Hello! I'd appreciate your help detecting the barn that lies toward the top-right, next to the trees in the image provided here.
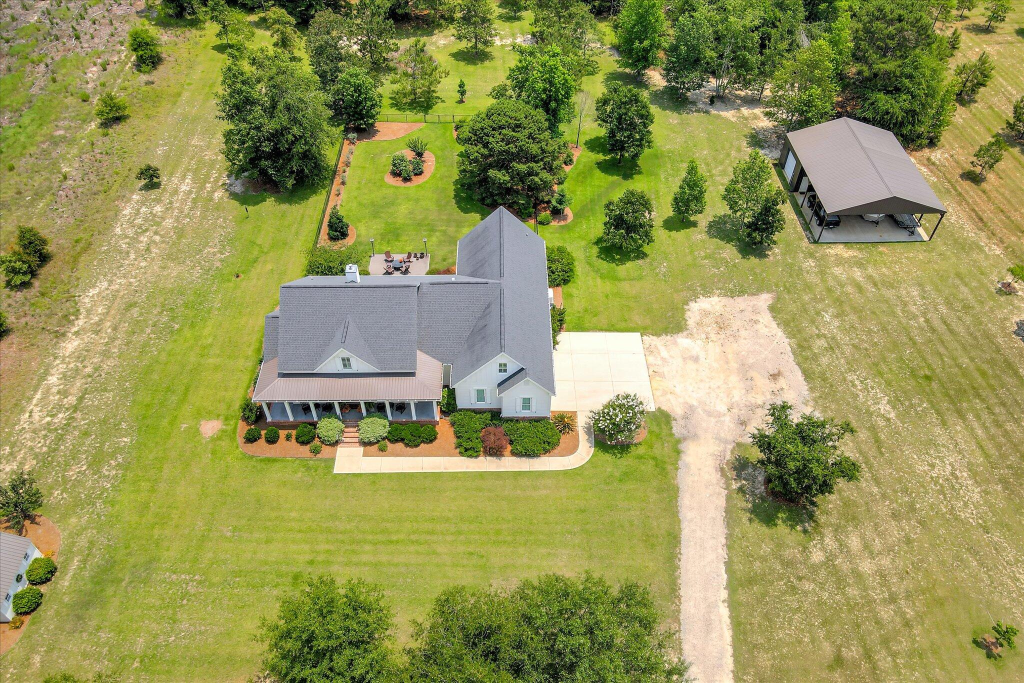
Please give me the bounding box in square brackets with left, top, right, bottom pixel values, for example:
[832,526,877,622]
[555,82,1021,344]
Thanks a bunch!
[779,116,947,242]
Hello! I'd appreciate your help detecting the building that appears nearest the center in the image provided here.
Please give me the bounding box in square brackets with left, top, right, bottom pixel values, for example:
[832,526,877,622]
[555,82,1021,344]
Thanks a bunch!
[250,206,558,447]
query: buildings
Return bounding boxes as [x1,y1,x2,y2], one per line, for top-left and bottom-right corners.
[779,116,947,242]
[250,206,558,447]
[0,525,42,621]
